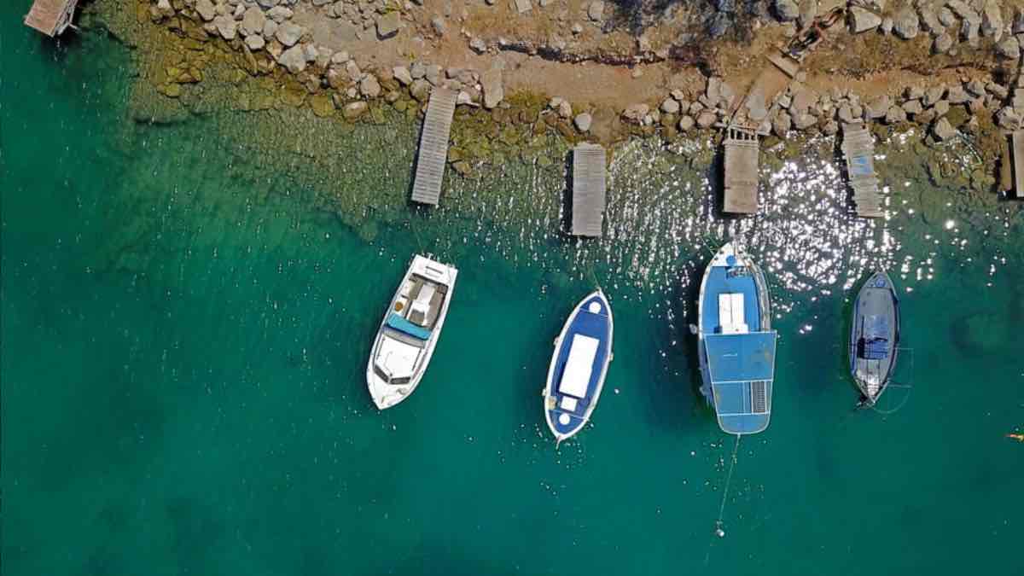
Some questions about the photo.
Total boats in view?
4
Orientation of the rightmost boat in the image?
up and down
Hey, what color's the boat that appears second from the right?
blue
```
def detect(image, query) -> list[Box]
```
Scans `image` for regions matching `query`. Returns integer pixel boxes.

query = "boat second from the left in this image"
[544,288,614,448]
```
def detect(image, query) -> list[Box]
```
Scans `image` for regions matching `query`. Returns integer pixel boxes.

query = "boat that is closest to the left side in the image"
[366,253,459,411]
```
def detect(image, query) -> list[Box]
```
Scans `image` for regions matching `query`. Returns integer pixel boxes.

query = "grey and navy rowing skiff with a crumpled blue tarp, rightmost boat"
[847,271,900,409]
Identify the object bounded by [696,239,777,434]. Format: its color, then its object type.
blue boat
